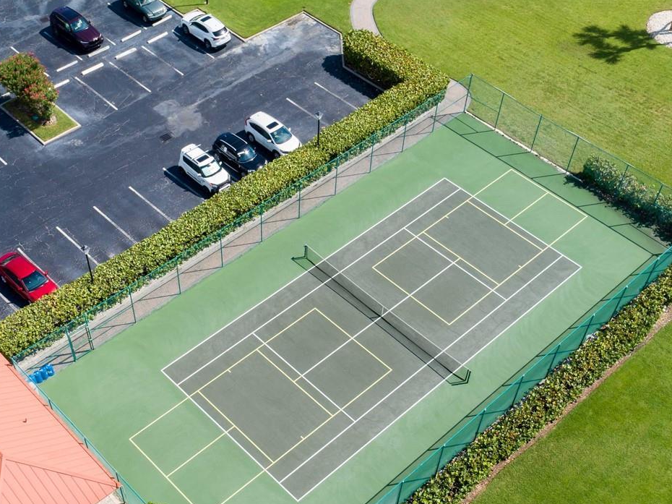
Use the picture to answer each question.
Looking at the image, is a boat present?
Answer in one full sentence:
No, the photo shows no boat.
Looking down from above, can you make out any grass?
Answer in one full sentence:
Yes, some grass is visible.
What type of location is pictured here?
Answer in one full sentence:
It's a sports ground.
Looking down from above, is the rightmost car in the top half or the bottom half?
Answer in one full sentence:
You can find the rightmost car in the top half.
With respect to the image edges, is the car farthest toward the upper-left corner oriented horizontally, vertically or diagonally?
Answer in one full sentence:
In this picture, the car farthest toward the upper-left corner lies diagonally.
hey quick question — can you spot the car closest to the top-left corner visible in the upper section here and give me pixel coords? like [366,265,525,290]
[47,7,98,52]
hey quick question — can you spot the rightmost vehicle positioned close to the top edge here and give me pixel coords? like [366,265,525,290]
[175,14,229,51]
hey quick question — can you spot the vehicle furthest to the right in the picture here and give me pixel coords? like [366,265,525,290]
[244,110,303,158]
